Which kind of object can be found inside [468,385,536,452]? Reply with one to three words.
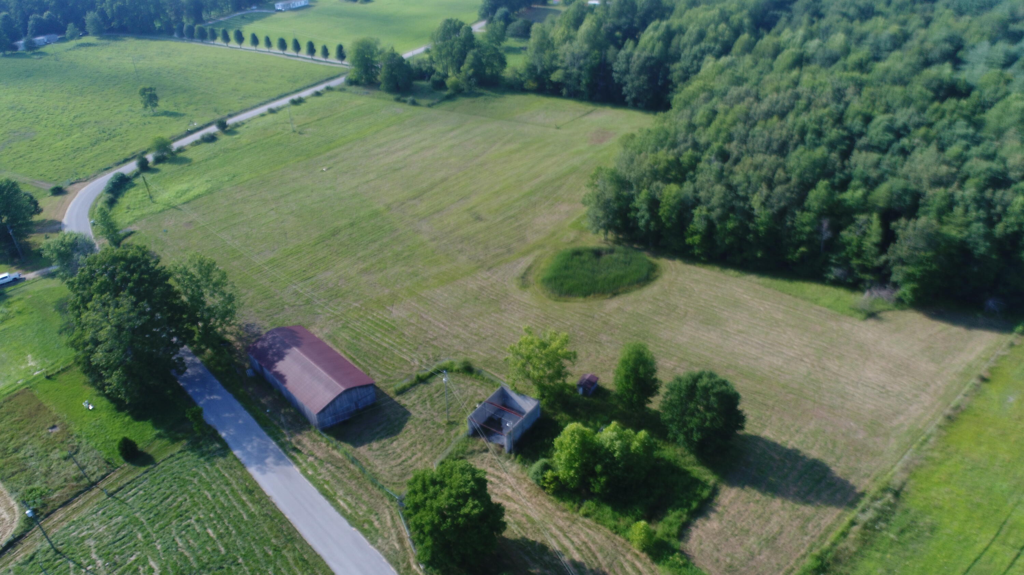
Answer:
building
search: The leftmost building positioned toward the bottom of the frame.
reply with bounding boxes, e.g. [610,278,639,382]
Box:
[248,324,376,430]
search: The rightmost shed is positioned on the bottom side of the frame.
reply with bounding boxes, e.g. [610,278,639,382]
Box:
[575,373,601,397]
